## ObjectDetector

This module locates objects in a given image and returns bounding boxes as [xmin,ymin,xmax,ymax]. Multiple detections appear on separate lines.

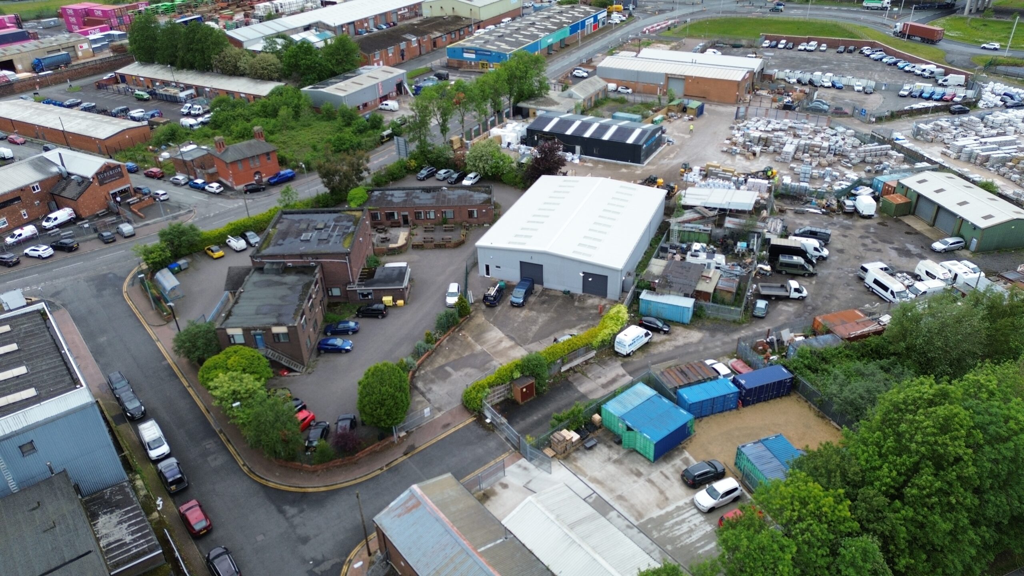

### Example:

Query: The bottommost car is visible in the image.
[205,545,245,576]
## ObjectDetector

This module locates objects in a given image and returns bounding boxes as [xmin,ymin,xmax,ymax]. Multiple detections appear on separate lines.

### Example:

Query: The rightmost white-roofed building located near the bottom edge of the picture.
[504,481,672,576]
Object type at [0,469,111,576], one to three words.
building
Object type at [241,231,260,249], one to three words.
car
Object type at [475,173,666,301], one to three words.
warehouse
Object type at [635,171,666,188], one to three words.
work vehicle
